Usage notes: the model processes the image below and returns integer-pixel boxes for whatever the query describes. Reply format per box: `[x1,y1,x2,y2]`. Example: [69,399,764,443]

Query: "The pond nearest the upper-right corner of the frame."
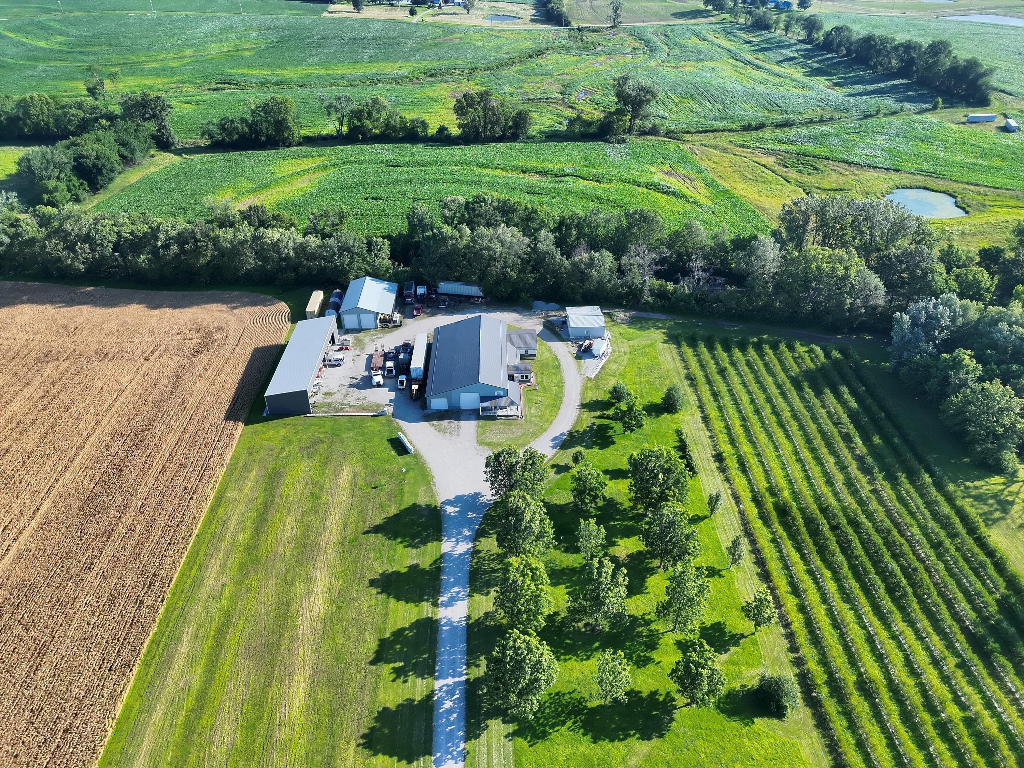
[887,188,966,217]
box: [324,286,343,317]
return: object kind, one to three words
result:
shed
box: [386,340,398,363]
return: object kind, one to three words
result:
vehicle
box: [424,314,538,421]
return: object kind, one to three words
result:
barn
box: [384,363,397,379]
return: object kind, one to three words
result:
vehicle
